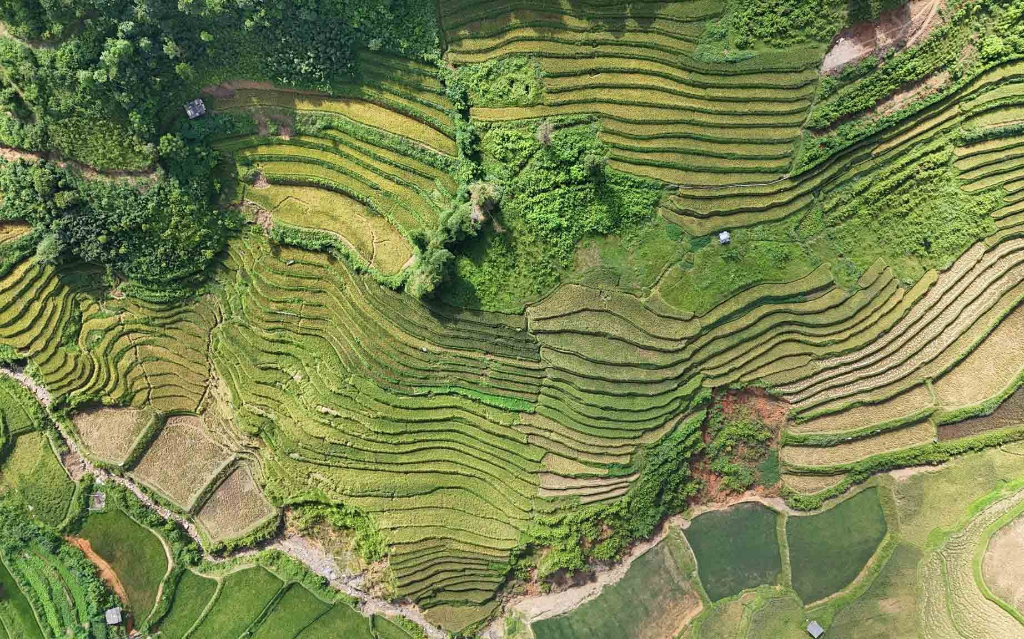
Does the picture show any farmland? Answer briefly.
Yes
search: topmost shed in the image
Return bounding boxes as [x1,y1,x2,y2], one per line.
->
[183,97,209,120]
